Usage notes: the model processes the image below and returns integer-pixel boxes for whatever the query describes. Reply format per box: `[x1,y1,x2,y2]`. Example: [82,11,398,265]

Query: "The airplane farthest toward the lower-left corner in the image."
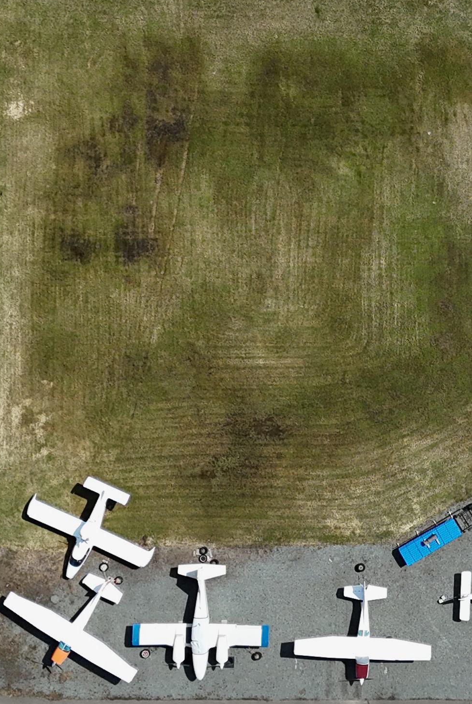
[5,572,136,684]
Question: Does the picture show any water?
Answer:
No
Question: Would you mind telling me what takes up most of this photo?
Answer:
grass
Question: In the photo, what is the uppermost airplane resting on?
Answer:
grass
